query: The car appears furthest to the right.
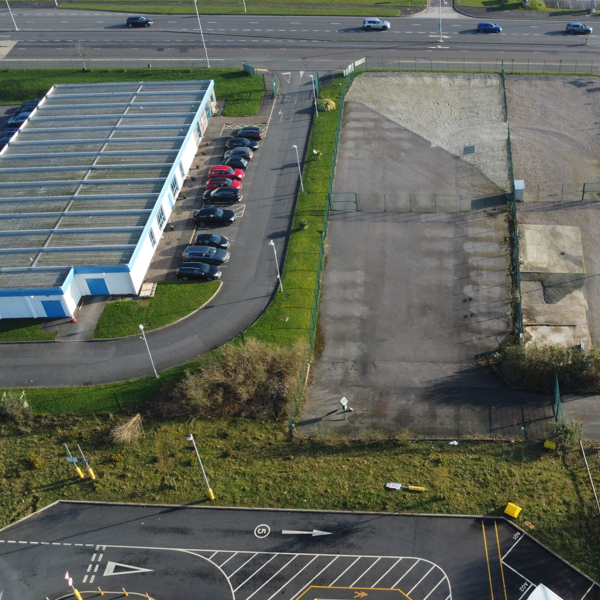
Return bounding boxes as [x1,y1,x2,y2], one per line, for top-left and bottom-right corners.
[566,22,591,34]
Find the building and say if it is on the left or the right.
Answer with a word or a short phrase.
left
